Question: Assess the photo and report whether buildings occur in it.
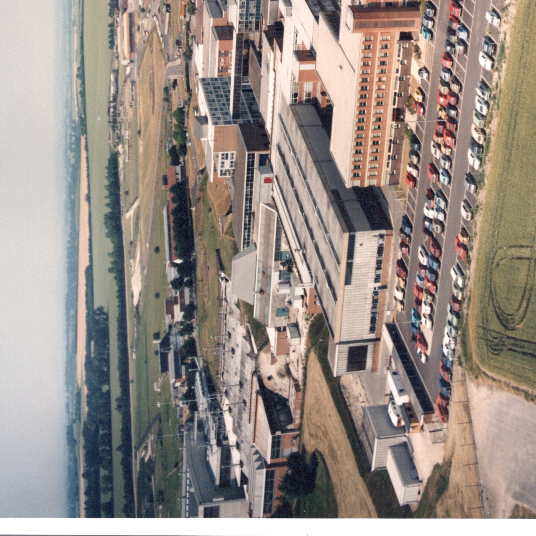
Yes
